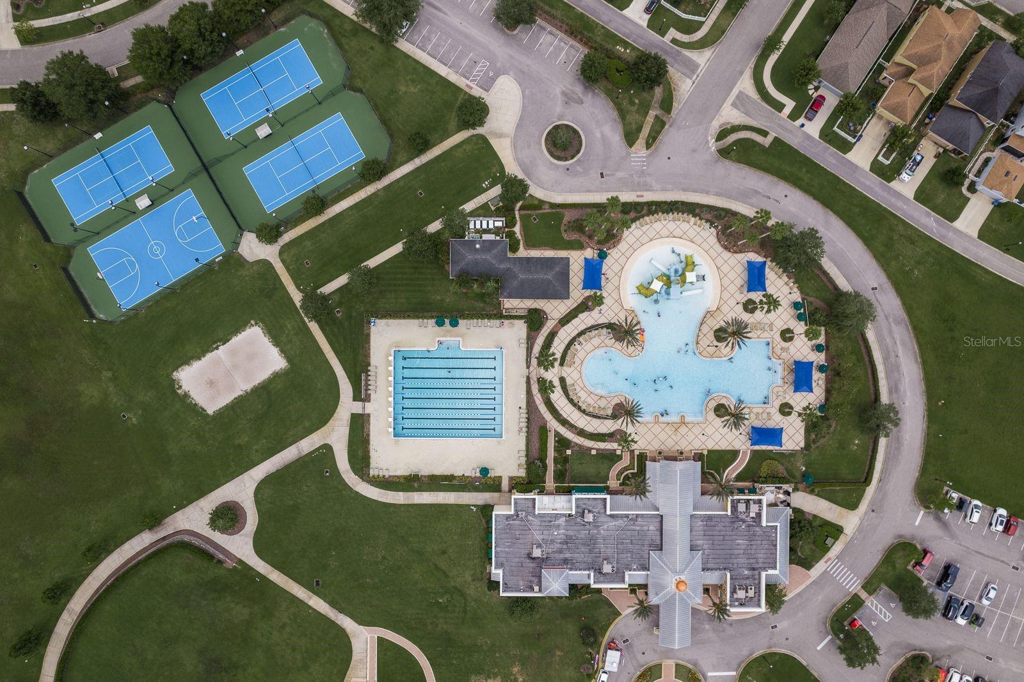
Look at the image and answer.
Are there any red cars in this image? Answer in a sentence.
Yes, a red car appears in the view.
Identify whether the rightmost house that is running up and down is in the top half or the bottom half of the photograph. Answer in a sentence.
The rightmost house that is running up and down sits in the top half of the picture.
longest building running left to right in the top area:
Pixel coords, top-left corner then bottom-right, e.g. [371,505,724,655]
[450,239,572,299]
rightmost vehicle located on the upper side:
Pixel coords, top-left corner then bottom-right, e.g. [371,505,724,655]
[899,154,923,182]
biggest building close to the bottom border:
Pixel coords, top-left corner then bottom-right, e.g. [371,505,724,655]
[489,459,789,649]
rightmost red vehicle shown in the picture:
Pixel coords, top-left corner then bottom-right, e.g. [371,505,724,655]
[1001,515,1018,537]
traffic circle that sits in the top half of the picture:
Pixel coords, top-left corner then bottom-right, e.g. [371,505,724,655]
[542,121,586,164]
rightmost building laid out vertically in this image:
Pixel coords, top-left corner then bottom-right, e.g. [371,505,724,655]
[974,87,1024,201]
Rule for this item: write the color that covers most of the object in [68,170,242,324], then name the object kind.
blue basketball court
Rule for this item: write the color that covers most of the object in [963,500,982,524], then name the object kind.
white car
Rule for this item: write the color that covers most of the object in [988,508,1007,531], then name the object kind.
white car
